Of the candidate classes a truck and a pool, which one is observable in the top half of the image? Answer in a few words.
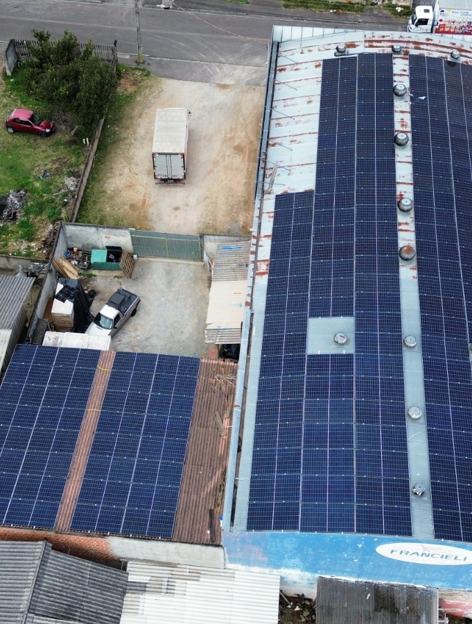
truck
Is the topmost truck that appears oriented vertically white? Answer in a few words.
Yes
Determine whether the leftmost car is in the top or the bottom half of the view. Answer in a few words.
top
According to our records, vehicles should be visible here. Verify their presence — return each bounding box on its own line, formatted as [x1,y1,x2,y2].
[153,107,193,185]
[2,107,55,138]
[86,285,145,346]
[407,0,472,35]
